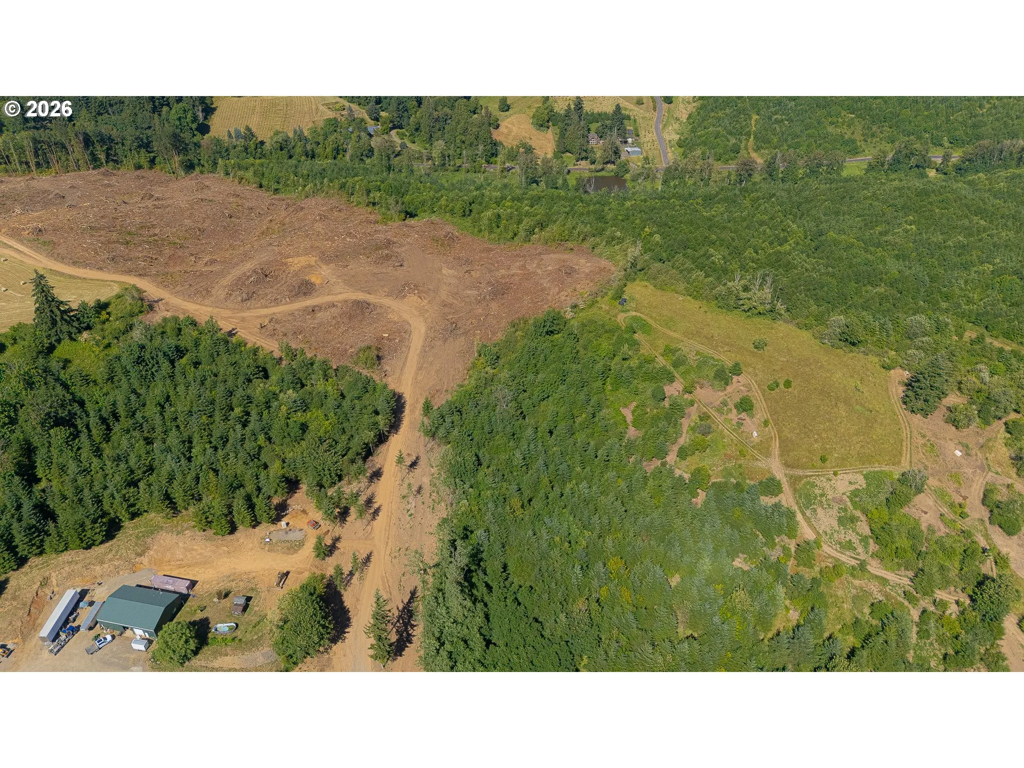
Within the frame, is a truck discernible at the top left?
No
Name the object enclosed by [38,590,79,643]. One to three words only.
trailer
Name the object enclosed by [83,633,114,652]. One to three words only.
vehicle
